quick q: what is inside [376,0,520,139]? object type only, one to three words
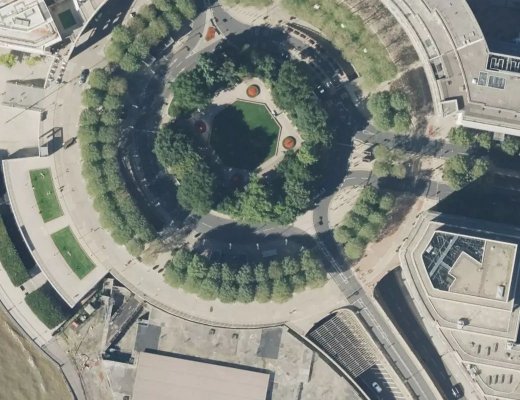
building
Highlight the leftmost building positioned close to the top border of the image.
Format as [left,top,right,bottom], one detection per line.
[0,0,63,59]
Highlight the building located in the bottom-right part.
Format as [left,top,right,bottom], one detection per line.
[398,213,520,400]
